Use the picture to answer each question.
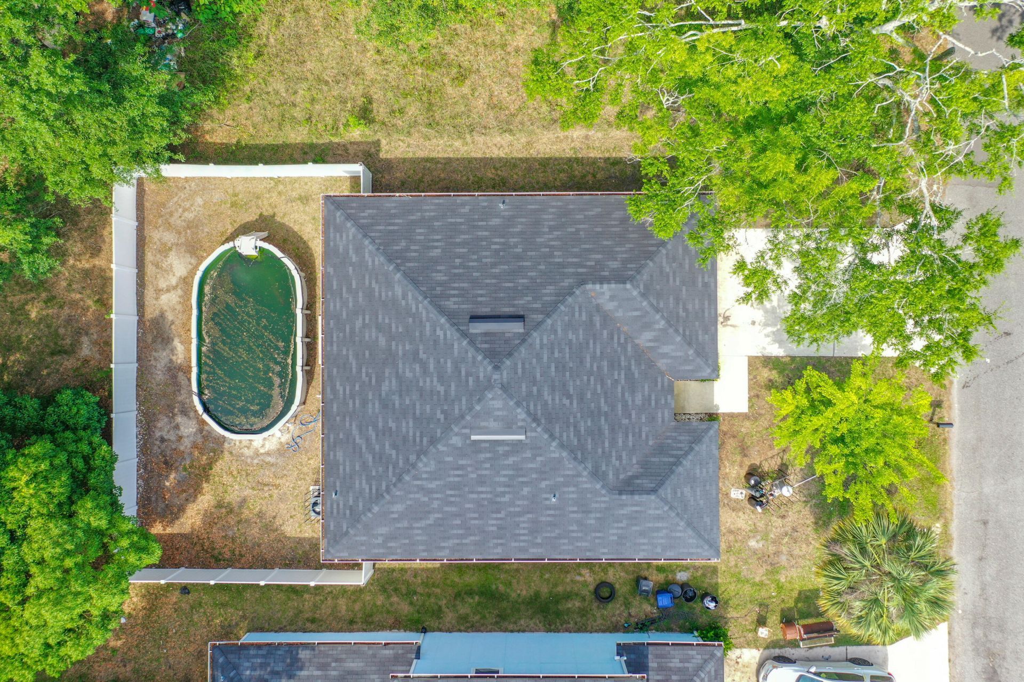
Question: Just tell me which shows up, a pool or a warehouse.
pool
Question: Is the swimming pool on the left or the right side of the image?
left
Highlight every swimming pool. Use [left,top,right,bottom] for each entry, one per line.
[188,242,320,438]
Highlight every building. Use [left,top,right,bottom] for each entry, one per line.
[207,629,726,682]
[319,191,722,563]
